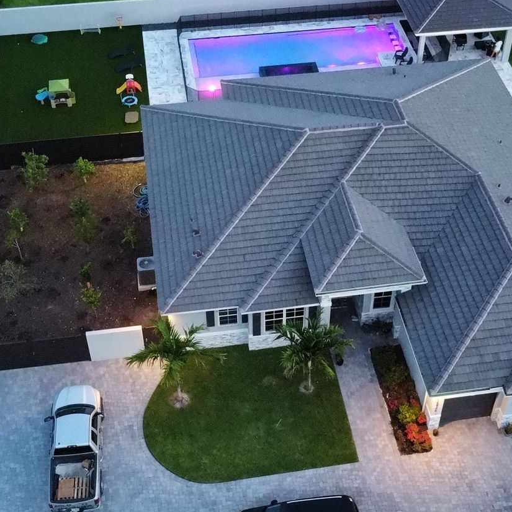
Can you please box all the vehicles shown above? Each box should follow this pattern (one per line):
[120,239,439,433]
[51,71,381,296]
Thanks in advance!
[241,490,360,512]
[43,386,106,512]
